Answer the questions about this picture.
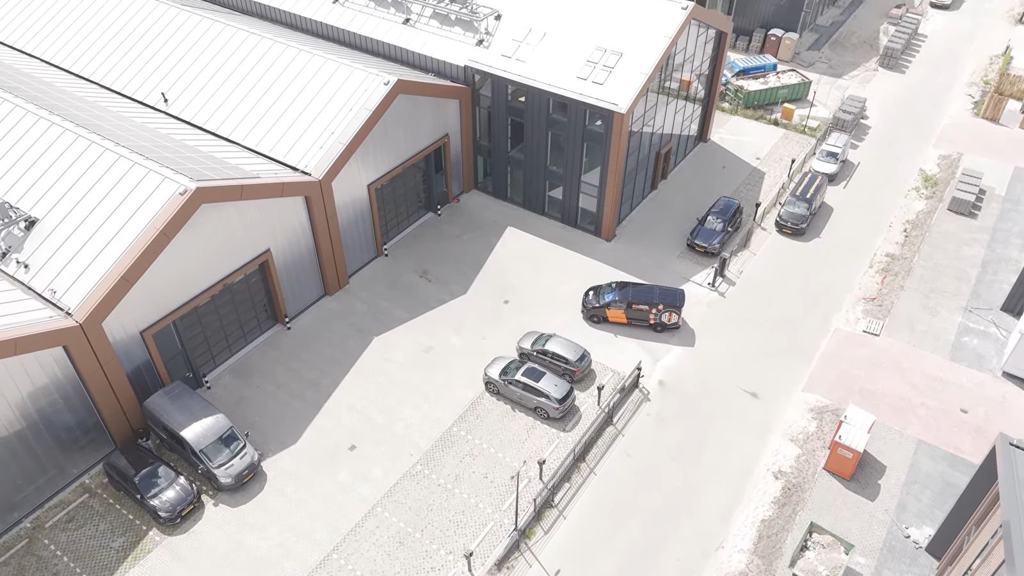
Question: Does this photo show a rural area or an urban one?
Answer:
urban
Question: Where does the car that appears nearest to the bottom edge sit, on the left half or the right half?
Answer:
left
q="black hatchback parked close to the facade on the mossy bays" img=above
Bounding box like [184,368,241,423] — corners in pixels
[102,442,203,525]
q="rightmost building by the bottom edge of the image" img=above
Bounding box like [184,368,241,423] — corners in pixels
[925,430,1024,576]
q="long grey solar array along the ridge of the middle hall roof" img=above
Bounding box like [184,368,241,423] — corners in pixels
[0,67,257,179]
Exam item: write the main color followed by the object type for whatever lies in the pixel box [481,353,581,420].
gray car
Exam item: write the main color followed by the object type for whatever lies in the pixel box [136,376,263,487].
gray van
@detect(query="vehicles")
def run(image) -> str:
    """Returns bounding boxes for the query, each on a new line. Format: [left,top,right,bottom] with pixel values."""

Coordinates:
[136,376,263,487]
[774,173,829,238]
[102,442,203,525]
[513,326,598,381]
[578,276,687,331]
[481,353,581,420]
[718,54,778,97]
[685,197,744,259]
[809,119,859,179]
